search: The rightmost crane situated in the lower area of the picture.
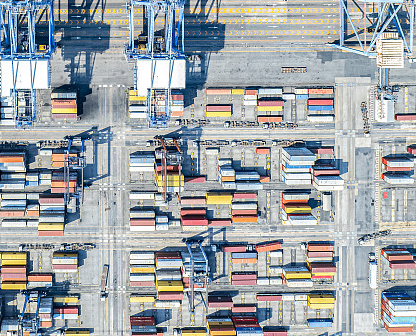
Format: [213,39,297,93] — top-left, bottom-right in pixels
[181,241,213,317]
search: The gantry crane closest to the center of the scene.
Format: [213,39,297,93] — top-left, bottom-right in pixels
[156,138,186,209]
